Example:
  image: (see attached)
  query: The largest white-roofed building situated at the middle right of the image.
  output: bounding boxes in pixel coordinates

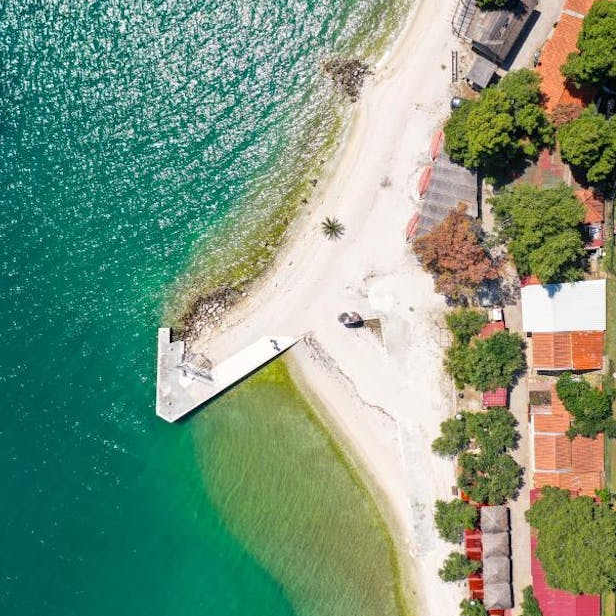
[521,280,606,332]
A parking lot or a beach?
beach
